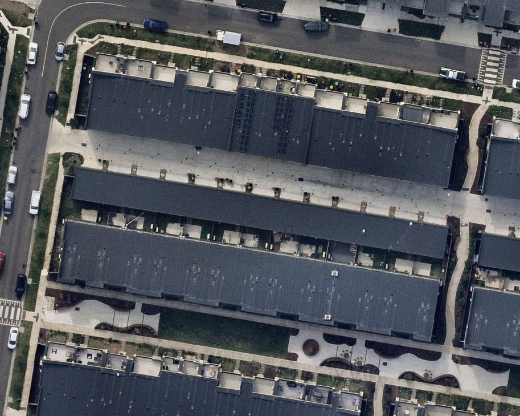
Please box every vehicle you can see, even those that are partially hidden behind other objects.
[142,18,169,31]
[6,166,17,186]
[303,20,329,33]
[6,326,18,350]
[215,31,241,46]
[17,94,31,120]
[54,42,65,62]
[511,79,520,90]
[27,42,38,65]
[2,191,14,216]
[29,190,40,215]
[14,274,26,295]
[45,90,57,114]
[255,13,279,25]
[439,68,467,81]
